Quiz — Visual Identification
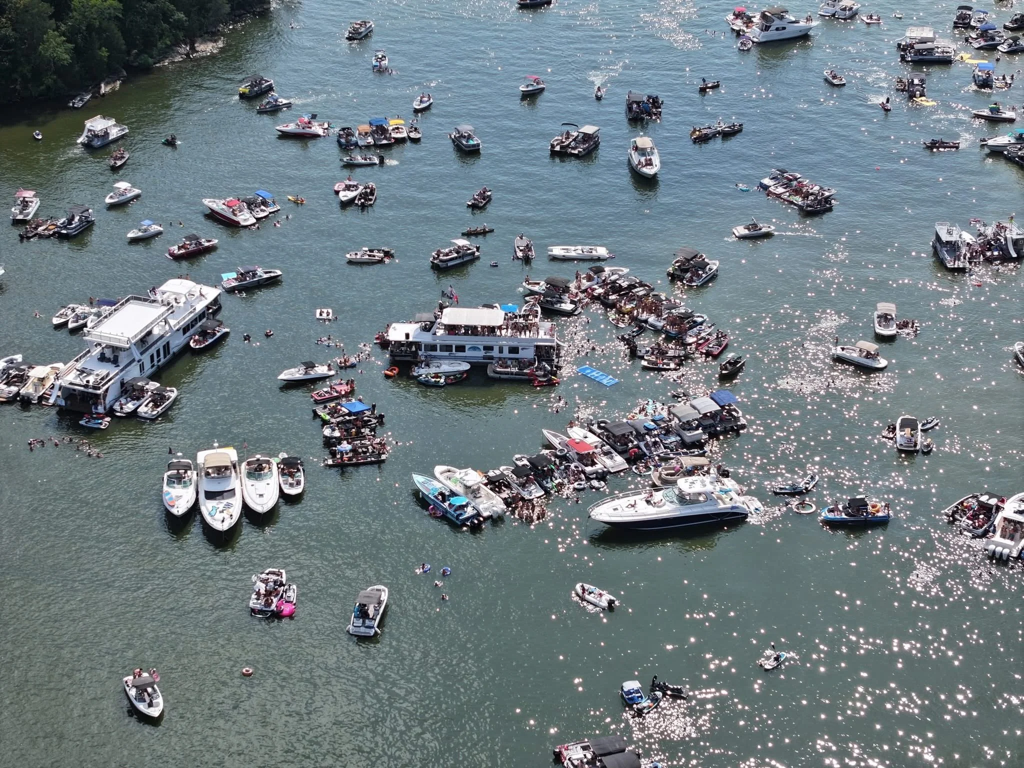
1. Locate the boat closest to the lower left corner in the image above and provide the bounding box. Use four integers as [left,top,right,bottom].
[121,670,163,717]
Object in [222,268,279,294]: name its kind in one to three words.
boat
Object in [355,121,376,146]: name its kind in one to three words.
boat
